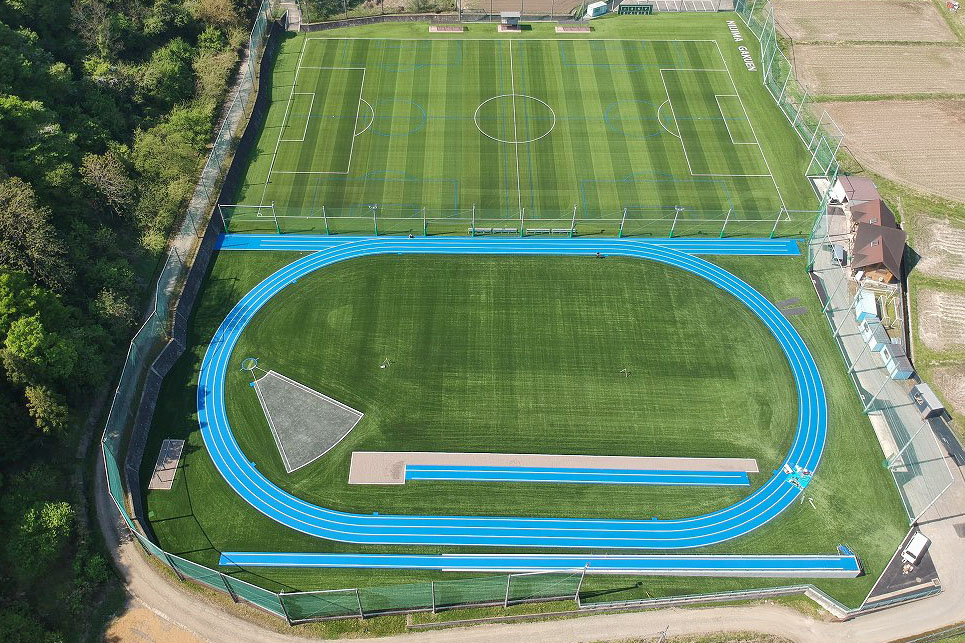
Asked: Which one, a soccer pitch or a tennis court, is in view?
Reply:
soccer pitch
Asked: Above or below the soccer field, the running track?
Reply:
below it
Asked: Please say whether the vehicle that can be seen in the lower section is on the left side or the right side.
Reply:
right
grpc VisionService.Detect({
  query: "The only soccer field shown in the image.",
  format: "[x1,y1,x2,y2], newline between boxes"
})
[258,39,791,221]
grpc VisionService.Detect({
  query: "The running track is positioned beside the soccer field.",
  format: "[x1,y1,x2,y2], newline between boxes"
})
[195,234,828,548]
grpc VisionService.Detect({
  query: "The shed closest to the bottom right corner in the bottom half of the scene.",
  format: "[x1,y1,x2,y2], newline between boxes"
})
[909,381,948,419]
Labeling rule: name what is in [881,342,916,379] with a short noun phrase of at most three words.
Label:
shed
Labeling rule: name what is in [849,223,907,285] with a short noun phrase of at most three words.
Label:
house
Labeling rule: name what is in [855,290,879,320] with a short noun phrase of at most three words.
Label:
shed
